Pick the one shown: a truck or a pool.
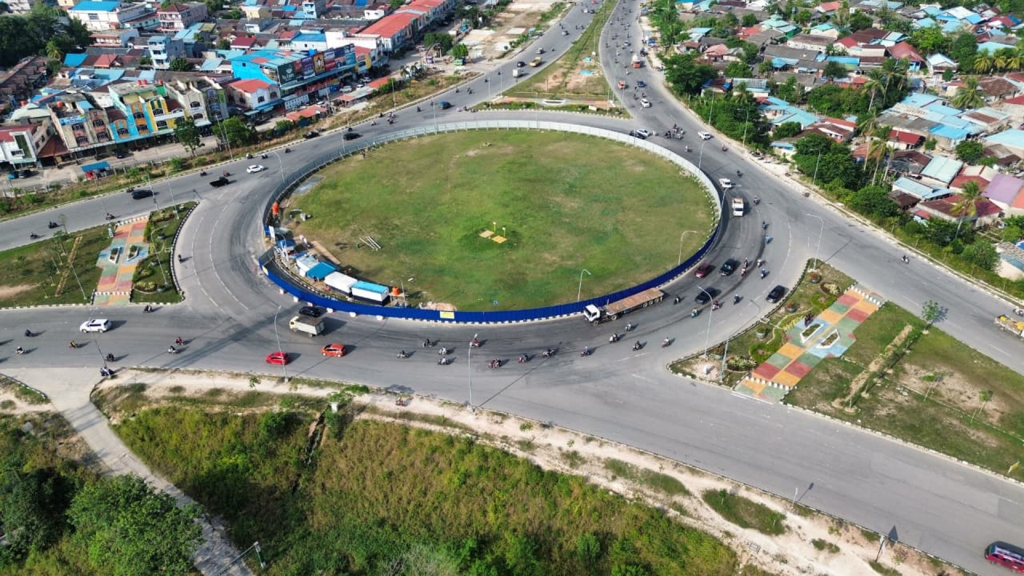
truck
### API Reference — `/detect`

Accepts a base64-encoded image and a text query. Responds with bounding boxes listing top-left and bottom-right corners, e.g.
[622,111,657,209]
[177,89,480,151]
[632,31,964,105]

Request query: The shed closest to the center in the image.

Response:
[351,279,390,306]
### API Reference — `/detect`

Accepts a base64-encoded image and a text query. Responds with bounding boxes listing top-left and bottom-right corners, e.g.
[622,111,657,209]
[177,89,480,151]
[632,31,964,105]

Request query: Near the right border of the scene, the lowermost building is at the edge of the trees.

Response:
[994,241,1024,285]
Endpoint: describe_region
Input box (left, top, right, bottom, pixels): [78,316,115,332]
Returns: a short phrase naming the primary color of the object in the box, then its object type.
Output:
white car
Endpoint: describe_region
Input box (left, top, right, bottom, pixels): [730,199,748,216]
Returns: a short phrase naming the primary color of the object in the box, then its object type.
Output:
white vehicle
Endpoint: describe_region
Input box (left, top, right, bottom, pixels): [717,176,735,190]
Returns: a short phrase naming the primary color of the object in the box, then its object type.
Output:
white vehicle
